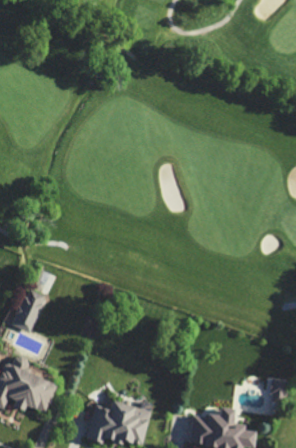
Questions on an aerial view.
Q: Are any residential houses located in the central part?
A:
No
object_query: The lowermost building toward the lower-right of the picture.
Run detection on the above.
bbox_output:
[192,408,258,448]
